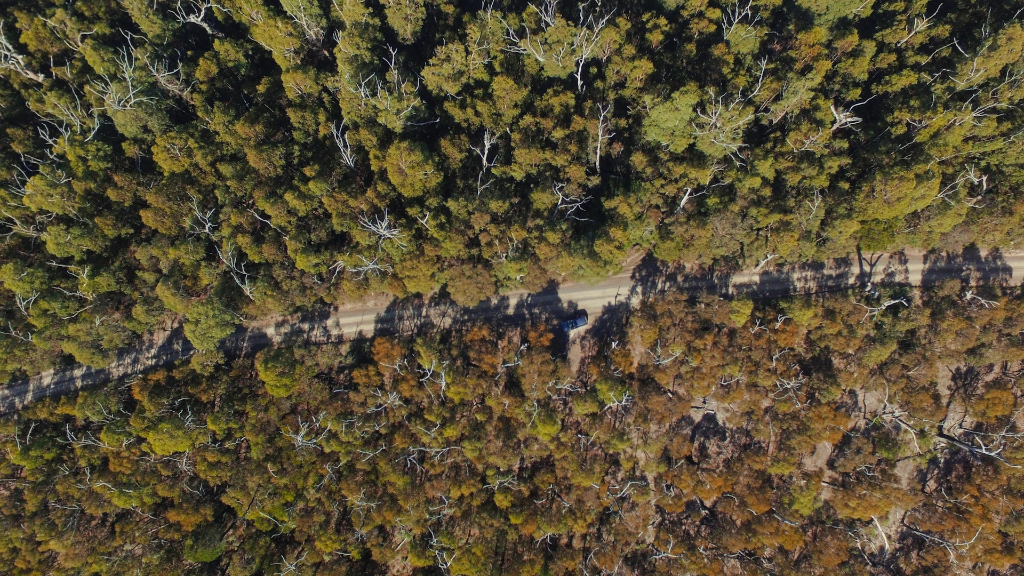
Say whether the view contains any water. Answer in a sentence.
No, the scene doesn't show any water.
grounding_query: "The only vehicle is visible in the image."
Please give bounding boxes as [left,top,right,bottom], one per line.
[559,313,589,331]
